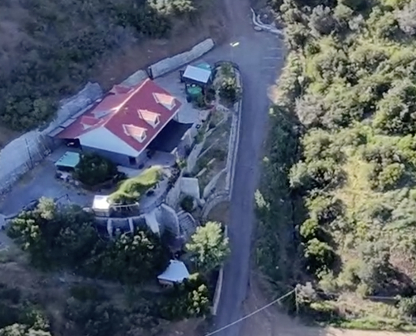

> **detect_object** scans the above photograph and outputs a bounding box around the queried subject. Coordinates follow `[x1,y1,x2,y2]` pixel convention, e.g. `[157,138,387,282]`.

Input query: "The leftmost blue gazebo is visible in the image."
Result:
[55,151,81,176]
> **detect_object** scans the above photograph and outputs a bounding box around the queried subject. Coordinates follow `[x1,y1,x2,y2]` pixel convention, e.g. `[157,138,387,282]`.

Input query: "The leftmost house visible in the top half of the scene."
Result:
[60,77,183,167]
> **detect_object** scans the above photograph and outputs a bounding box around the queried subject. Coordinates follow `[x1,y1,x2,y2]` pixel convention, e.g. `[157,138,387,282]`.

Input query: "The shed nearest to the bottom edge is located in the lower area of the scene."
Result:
[162,260,189,288]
